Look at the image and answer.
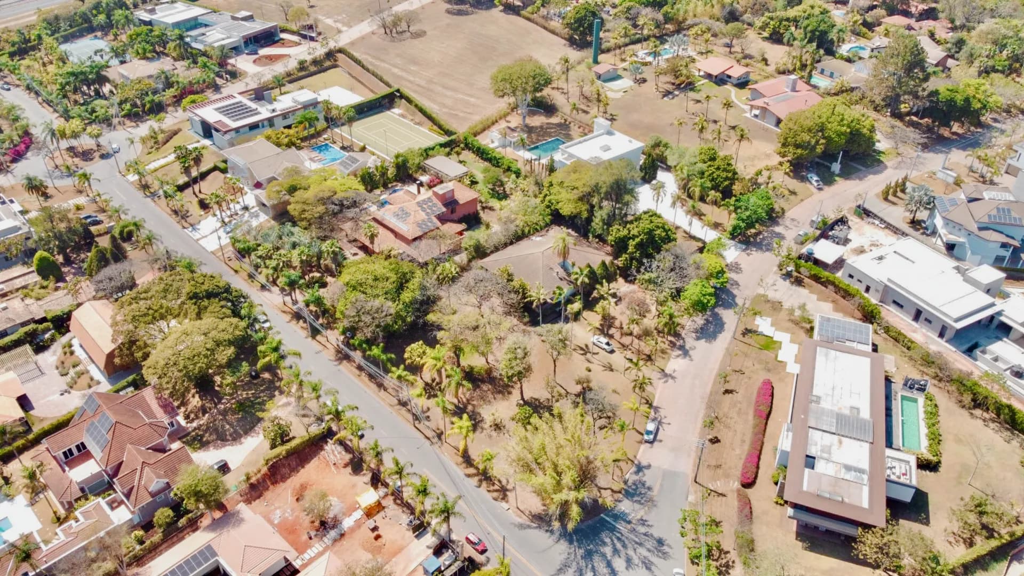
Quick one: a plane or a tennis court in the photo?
tennis court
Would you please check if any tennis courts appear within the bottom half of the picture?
No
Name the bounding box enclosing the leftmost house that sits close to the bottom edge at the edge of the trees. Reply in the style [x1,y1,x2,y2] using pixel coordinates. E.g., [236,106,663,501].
[0,386,195,576]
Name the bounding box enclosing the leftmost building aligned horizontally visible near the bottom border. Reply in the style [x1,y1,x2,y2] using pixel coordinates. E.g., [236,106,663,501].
[128,502,299,576]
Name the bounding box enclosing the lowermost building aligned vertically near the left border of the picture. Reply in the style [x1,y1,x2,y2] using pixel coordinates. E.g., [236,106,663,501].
[0,371,28,432]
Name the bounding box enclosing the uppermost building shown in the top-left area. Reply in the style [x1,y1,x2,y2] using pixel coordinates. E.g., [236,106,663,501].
[135,2,281,58]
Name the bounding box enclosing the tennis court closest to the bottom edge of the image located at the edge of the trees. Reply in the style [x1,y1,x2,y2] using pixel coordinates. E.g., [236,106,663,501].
[336,111,453,166]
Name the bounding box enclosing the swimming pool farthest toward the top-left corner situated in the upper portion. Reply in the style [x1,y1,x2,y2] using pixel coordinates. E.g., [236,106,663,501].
[308,140,350,167]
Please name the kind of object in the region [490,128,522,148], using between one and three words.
gazebo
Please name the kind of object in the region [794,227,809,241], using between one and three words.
car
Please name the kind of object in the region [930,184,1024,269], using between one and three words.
house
